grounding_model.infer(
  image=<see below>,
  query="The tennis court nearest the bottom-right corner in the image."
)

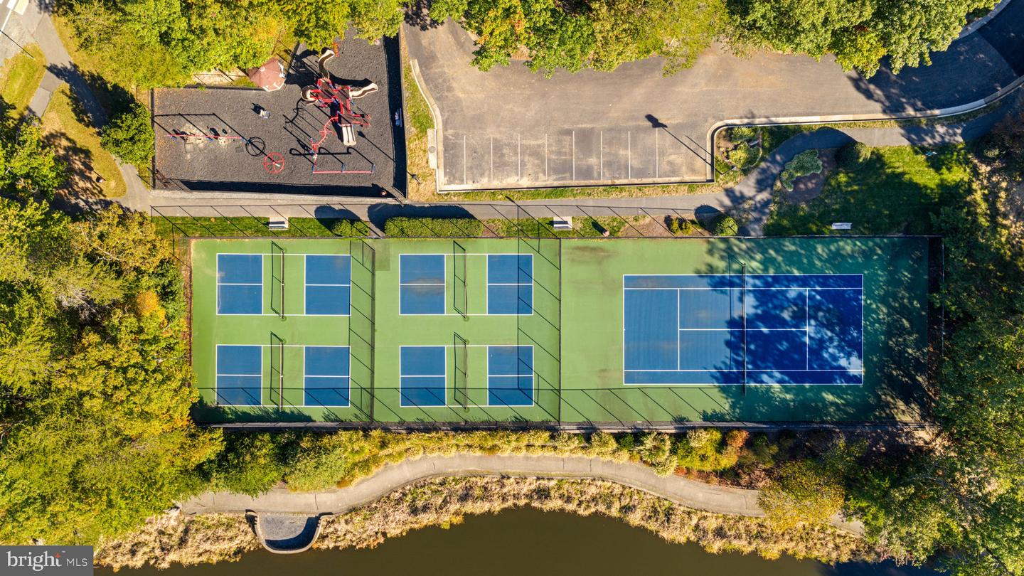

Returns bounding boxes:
[560,238,928,425]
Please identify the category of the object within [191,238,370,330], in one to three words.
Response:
sports court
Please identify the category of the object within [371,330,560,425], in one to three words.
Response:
sports court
